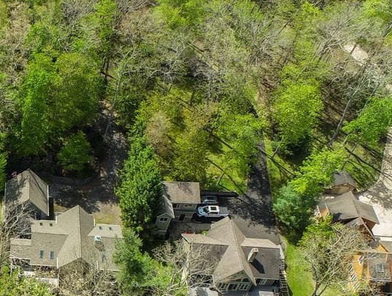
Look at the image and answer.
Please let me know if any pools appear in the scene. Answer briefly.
No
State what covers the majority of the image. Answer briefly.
trees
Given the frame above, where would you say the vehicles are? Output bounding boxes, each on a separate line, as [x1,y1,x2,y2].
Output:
[198,205,232,218]
[200,194,224,206]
